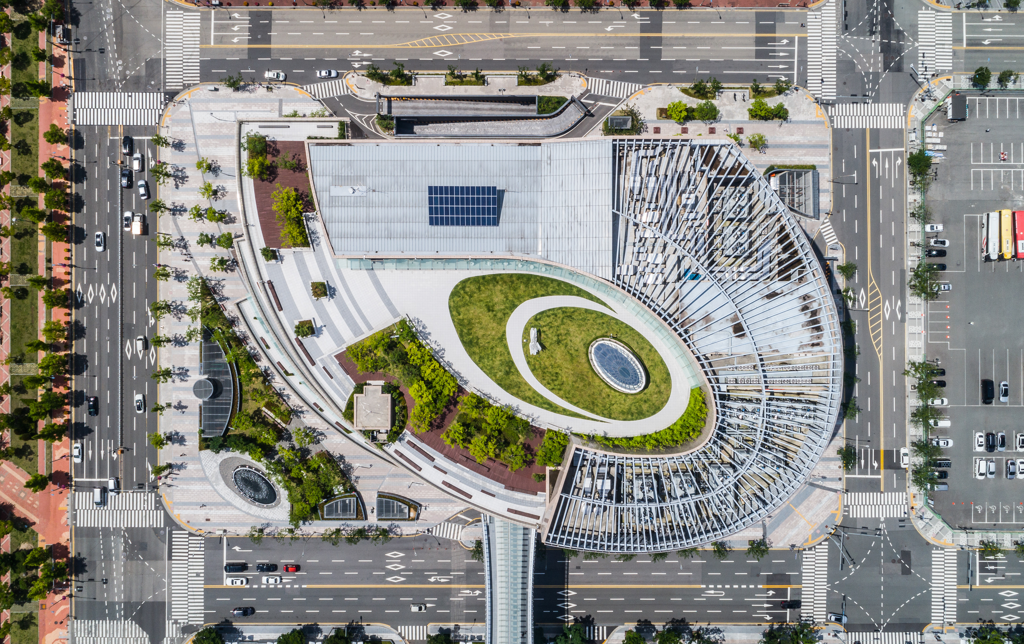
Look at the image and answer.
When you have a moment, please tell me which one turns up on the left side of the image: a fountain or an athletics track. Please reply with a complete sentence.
Visible on the left side of the image is a fountain.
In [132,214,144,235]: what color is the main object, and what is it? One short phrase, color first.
white vehicle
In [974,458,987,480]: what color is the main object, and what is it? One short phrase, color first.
white vehicle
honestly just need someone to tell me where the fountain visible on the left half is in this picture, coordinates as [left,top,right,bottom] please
[233,468,278,505]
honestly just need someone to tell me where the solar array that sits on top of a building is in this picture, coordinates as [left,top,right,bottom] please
[428,186,497,226]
